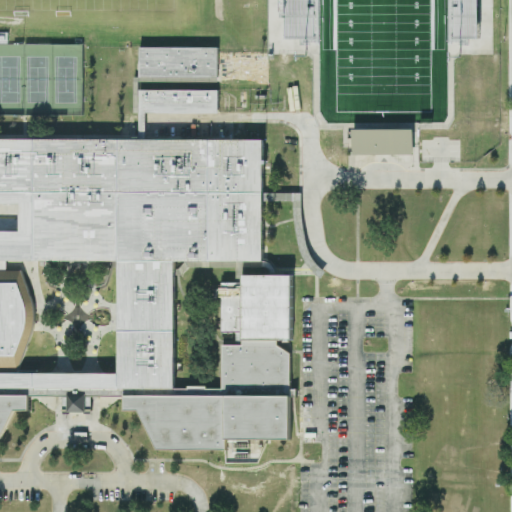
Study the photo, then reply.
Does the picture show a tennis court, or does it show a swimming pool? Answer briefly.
tennis court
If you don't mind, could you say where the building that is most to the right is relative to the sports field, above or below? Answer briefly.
below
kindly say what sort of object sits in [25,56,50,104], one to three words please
tennis court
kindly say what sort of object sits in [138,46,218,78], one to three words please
building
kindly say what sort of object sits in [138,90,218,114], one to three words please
building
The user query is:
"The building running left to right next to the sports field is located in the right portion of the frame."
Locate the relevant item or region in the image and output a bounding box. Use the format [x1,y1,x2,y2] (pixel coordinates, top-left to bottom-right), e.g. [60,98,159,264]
[348,128,414,154]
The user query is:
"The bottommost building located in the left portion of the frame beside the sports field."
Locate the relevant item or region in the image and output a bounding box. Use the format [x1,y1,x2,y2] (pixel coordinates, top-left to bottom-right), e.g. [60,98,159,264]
[0,138,264,389]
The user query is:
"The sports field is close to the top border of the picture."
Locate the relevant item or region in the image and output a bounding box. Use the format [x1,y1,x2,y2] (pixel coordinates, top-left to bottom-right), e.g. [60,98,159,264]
[320,0,448,122]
